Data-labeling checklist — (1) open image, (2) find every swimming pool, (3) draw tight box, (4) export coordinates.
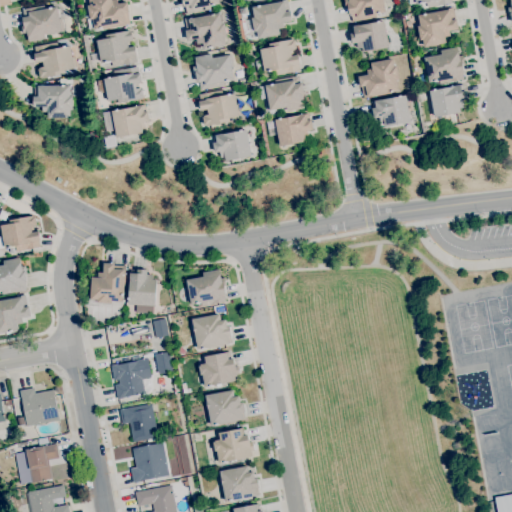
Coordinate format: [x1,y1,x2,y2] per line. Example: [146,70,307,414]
[38,422,60,435]
[178,500,188,512]
[216,304,227,314]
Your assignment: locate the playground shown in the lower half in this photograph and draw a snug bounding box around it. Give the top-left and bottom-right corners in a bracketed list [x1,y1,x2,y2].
[443,282,512,512]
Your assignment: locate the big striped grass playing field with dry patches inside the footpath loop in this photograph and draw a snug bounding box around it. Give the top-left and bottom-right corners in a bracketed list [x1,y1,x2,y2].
[275,268,458,512]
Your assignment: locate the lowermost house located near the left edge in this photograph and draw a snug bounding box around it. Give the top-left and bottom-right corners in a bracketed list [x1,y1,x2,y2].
[24,484,70,512]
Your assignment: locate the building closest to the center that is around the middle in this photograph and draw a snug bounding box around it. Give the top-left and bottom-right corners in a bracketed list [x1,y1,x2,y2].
[188,269,229,307]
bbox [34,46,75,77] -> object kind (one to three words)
house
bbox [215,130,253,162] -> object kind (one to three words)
house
